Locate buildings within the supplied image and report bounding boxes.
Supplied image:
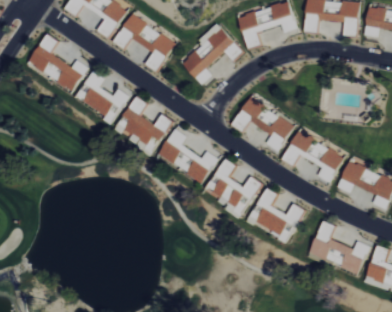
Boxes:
[238,0,298,49]
[338,159,392,209]
[304,0,362,42]
[178,22,242,86]
[282,126,348,183]
[113,96,172,156]
[158,128,218,186]
[308,222,370,278]
[115,10,180,70]
[204,160,262,218]
[28,34,86,92]
[247,188,304,244]
[233,92,298,150]
[64,0,130,37]
[364,246,392,292]
[74,72,131,125]
[364,4,392,40]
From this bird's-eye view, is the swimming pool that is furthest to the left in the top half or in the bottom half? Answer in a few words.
top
